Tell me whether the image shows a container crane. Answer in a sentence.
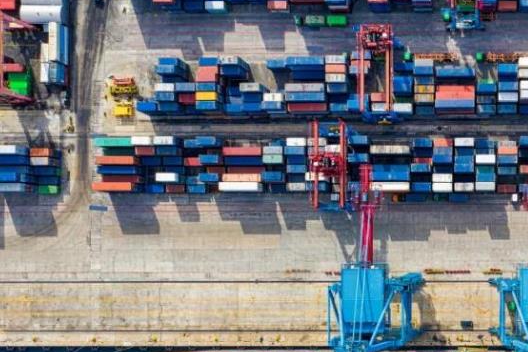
Yes, looking at the shot, I can spot a container crane.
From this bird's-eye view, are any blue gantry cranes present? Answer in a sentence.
Yes, I can see a blue gantry crane in this picture.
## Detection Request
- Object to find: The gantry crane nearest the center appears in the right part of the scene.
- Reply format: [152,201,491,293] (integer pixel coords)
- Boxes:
[308,117,362,211]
